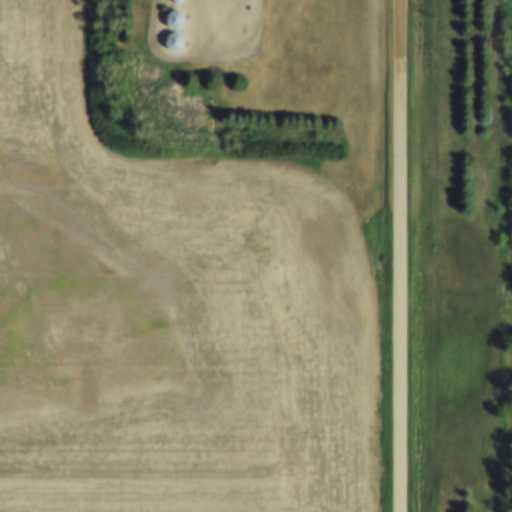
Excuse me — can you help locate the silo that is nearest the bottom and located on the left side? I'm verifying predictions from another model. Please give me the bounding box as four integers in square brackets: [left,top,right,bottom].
[166,30,189,51]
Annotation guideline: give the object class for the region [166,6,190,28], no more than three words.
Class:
silo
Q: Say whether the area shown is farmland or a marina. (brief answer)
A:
farmland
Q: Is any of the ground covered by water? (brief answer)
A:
No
